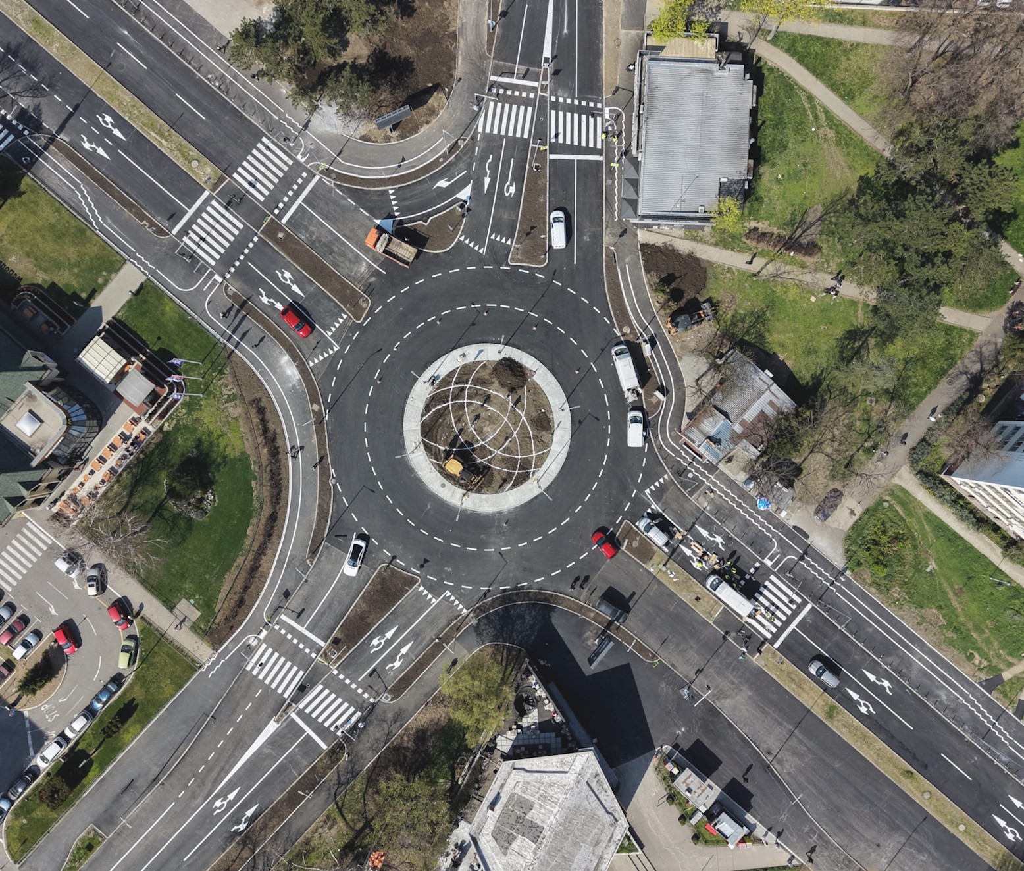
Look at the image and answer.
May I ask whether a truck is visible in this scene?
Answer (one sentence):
Yes, there is a truck in the image.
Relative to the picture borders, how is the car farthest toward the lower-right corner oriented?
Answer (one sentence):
The car farthest toward the lower-right corner has been laid out diagonally relative to the frame.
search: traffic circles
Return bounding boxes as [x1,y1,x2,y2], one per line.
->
[316,253,658,609]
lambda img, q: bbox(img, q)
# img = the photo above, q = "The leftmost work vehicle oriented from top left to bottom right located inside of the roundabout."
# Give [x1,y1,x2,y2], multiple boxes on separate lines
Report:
[435,448,487,491]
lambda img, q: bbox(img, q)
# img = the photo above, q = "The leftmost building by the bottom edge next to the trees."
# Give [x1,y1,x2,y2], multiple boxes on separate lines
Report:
[469,675,629,871]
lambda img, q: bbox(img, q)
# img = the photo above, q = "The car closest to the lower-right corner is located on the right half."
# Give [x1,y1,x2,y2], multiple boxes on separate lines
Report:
[806,658,842,691]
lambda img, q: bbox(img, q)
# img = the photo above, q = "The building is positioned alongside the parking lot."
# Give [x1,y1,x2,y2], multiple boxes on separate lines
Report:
[0,322,111,532]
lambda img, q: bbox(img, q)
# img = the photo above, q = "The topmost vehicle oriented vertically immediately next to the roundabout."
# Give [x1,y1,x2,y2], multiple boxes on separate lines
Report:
[549,211,568,250]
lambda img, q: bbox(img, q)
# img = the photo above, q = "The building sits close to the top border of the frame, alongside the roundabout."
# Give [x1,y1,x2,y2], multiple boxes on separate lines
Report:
[622,32,757,235]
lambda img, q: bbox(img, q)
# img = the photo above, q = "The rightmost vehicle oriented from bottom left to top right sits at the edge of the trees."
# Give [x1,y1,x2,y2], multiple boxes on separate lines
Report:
[813,484,846,522]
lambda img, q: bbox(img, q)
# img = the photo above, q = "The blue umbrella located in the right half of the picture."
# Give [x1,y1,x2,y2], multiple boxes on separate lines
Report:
[756,496,770,511]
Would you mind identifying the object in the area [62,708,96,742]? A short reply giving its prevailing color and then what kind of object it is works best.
white car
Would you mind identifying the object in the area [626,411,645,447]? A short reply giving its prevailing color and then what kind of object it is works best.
white vehicle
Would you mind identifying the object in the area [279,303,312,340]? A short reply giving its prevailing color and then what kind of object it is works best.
red car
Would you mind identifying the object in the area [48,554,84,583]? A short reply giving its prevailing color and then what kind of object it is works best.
white car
